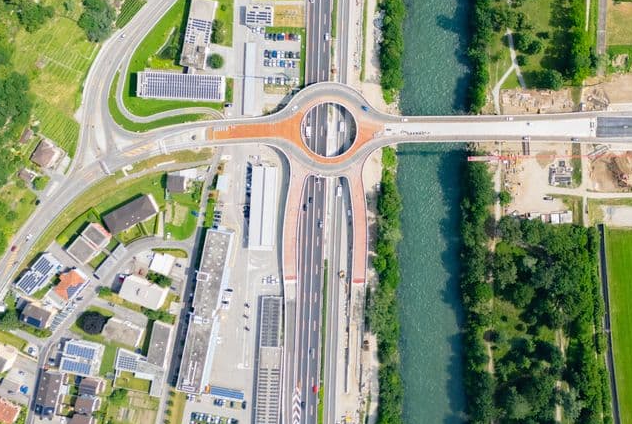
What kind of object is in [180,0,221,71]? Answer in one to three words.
building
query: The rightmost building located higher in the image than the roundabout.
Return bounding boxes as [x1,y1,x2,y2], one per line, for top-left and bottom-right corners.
[246,4,275,28]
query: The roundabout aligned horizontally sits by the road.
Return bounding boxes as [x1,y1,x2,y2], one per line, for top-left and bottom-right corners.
[139,82,419,186]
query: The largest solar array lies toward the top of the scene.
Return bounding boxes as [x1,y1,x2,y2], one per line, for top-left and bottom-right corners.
[141,74,221,98]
